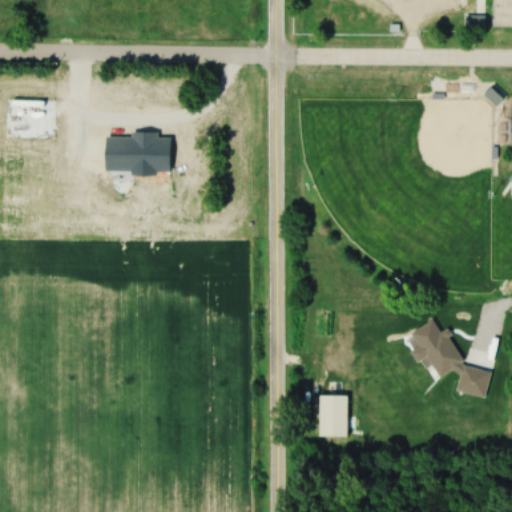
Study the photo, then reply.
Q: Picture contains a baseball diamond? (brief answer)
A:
Yes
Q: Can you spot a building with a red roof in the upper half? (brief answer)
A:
No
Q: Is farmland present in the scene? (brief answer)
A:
Yes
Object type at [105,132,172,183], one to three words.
house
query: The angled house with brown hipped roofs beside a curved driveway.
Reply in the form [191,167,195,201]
[402,319,494,398]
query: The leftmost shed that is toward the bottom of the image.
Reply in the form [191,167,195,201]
[320,396,348,438]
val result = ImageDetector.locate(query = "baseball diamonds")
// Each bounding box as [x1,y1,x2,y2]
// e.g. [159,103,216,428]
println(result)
[300,98,495,292]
